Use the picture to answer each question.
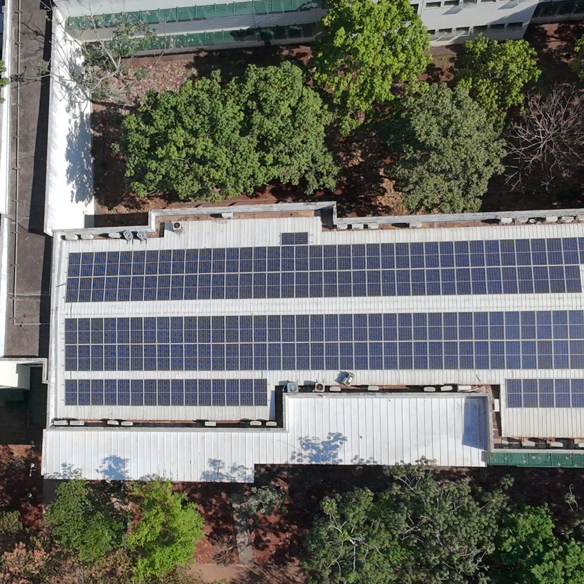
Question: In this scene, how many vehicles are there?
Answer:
zero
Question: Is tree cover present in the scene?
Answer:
Yes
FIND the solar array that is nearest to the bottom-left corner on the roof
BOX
[62,380,271,406]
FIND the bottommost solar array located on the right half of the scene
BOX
[506,379,584,407]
